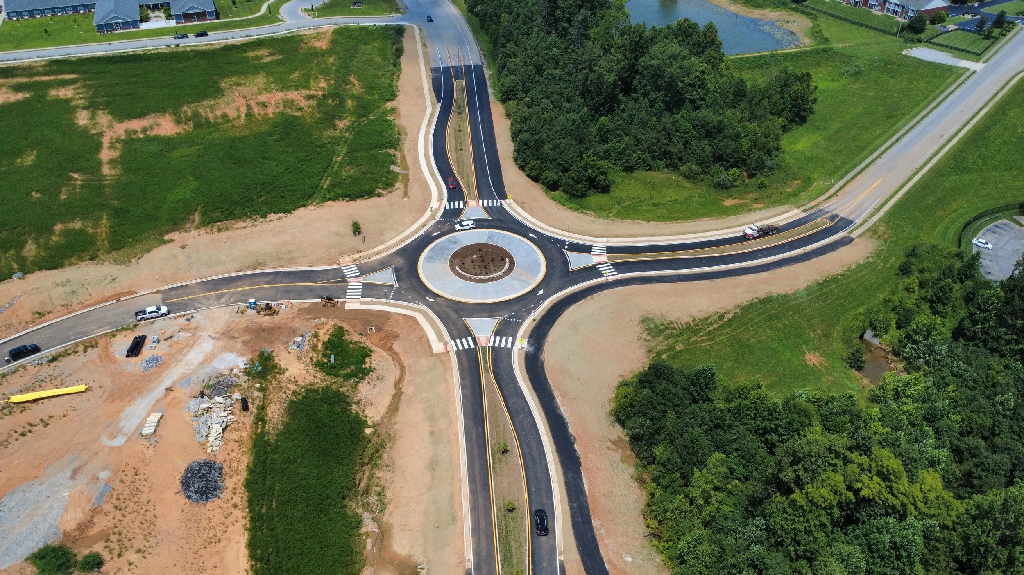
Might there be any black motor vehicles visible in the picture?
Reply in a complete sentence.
Yes, this view includes a black motor vehicle.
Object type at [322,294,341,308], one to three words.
work vehicle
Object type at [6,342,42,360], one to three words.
car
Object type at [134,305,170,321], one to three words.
vehicle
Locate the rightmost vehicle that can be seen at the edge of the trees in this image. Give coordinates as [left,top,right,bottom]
[971,237,996,249]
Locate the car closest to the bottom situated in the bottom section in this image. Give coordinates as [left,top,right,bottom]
[534,507,550,535]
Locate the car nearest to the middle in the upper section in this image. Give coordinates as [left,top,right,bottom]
[454,219,476,232]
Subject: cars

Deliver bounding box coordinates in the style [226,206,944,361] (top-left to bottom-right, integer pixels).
[454,219,476,232]
[174,32,188,38]
[447,176,456,187]
[426,12,433,20]
[6,342,42,360]
[194,30,208,36]
[534,507,550,535]
[971,237,996,249]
